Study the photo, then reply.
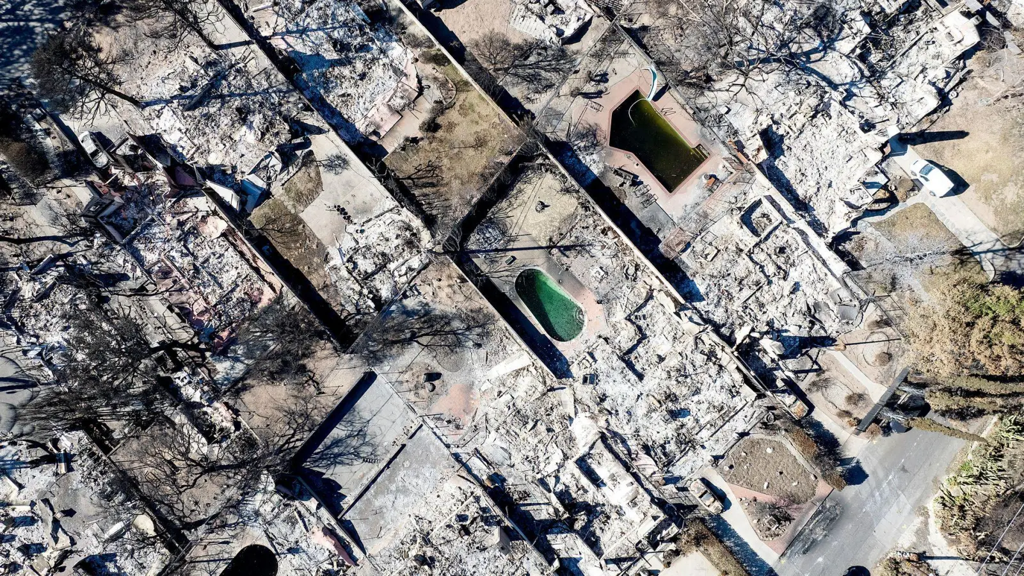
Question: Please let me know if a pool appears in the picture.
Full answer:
Yes, the frame does contain a pool.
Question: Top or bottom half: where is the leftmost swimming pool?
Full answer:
The bottom half of the photo is where the leftmost swimming pool is.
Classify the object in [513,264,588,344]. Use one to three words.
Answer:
swimming pool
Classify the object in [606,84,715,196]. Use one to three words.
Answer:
swimming pool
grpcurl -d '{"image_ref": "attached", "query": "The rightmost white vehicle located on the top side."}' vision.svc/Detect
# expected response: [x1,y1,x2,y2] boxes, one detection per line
[907,159,957,202]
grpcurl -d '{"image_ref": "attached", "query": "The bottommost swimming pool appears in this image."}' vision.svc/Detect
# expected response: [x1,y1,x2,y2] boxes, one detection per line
[217,543,281,576]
